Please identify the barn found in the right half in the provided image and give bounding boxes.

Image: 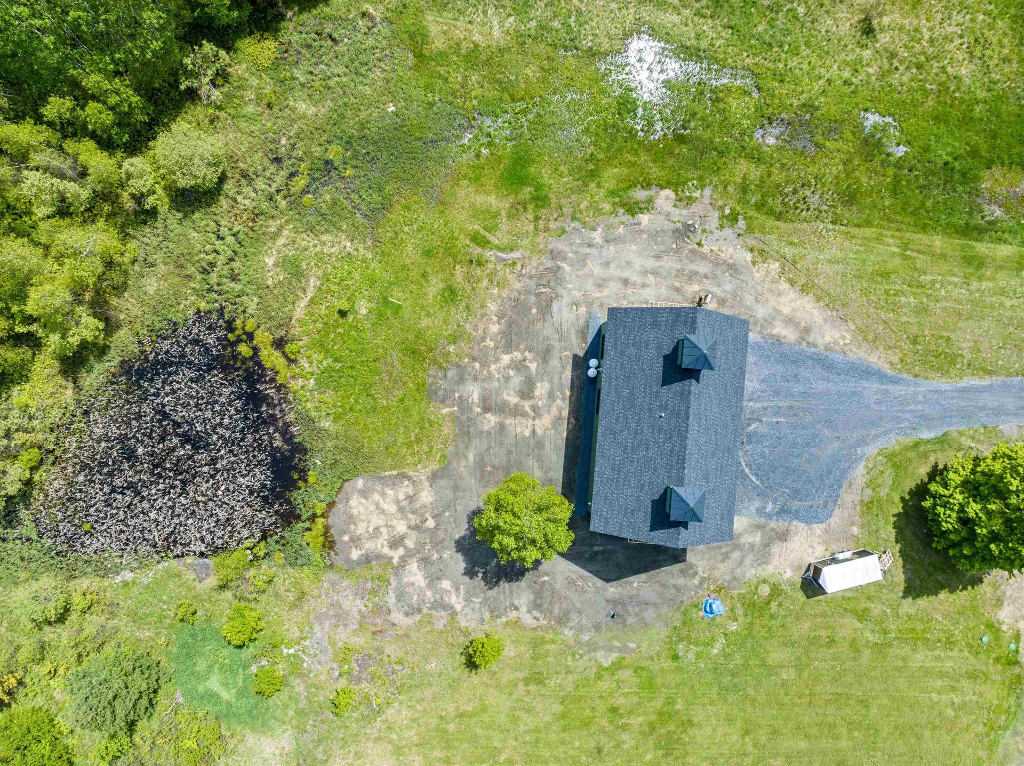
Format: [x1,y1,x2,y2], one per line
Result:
[586,299,751,553]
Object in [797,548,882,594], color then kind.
white trailer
